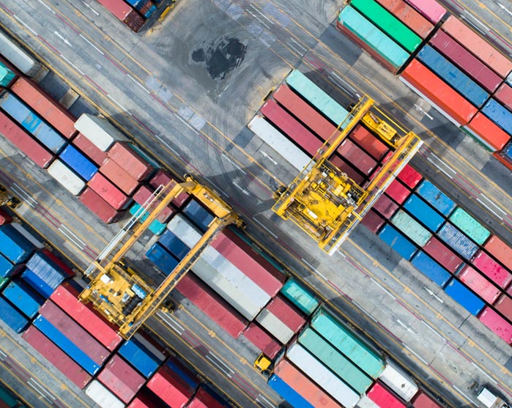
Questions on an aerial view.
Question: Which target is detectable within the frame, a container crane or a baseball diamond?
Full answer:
Looking from above, you can make out a container crane.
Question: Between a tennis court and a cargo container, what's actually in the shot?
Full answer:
Of the two, only a cargo container appears.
